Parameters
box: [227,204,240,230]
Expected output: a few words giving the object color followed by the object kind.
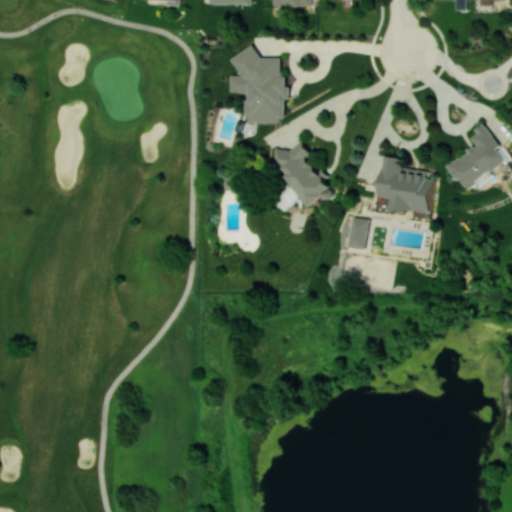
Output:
blue swimming pool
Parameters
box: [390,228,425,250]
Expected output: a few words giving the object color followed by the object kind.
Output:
blue swimming pool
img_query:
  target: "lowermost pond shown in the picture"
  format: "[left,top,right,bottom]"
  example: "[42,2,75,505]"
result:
[260,349,500,512]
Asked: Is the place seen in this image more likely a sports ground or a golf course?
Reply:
golf course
